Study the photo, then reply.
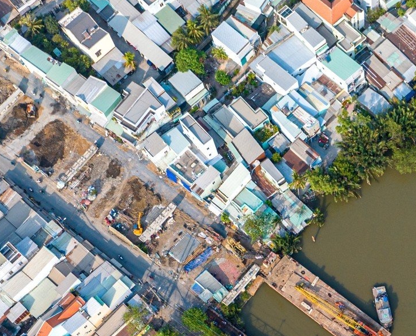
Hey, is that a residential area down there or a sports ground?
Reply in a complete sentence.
What you see here is a residential area.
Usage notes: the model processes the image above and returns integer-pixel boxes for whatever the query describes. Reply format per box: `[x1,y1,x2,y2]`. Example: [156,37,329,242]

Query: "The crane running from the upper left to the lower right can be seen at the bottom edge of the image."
[295,285,379,336]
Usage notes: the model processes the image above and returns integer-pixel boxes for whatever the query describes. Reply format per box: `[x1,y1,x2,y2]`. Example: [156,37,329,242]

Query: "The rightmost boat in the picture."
[373,285,392,329]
